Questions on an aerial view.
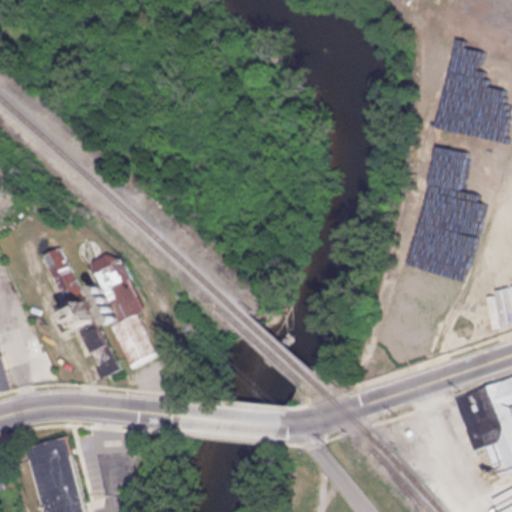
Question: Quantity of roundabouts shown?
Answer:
0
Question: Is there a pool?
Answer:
No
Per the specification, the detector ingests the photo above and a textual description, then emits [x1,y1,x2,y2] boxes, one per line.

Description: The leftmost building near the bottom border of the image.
[28,436,83,512]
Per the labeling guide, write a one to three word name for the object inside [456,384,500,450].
building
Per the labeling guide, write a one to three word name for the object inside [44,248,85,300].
house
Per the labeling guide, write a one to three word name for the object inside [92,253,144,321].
building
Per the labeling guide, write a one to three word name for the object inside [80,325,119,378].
house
